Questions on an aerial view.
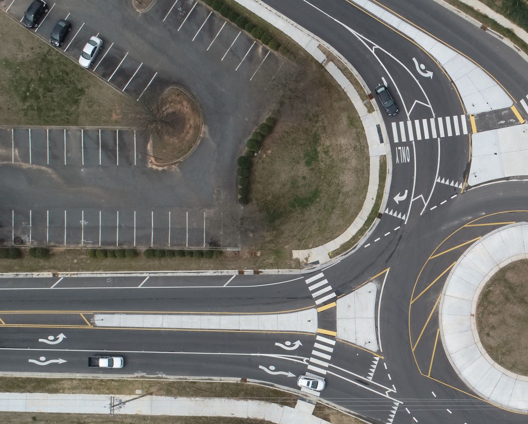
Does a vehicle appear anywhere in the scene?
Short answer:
Yes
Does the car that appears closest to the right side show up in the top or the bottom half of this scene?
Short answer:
top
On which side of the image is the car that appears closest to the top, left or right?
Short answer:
left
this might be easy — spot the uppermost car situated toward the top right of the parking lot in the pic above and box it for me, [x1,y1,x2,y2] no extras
[376,85,398,117]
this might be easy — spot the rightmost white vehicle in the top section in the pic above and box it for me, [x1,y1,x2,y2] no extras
[77,36,102,67]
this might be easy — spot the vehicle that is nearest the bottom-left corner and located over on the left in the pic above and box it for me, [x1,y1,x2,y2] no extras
[87,356,126,369]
